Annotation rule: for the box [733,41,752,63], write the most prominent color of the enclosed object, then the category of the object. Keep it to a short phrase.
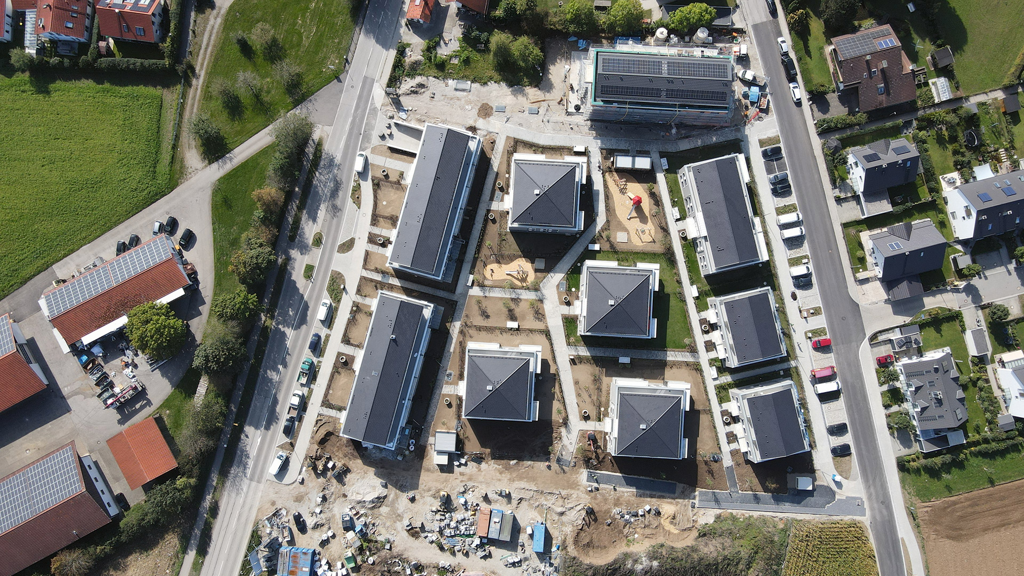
white vehicle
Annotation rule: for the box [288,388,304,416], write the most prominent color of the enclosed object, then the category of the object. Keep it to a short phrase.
white vehicle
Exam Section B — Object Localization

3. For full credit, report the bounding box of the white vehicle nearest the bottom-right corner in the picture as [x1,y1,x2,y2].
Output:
[814,381,838,394]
